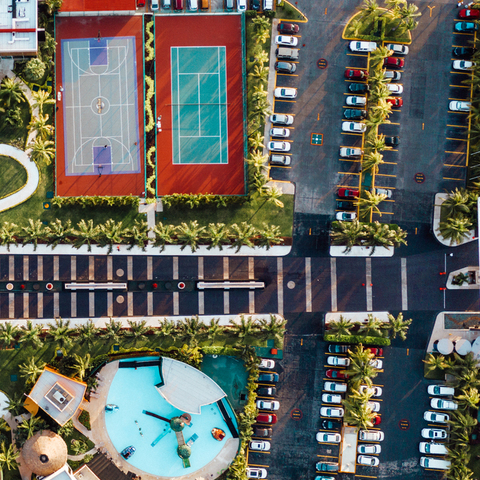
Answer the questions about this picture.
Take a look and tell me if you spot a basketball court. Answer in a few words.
Yes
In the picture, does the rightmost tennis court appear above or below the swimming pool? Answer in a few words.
above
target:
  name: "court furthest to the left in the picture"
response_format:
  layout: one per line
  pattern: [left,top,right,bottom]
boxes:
[56,15,145,196]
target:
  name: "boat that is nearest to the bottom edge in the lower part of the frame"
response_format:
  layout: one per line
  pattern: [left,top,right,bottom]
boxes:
[120,446,134,459]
